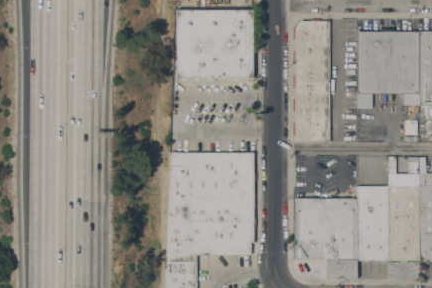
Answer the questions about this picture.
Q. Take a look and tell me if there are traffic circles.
No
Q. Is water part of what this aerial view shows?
No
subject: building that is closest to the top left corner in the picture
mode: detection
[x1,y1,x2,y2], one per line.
[176,9,254,79]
